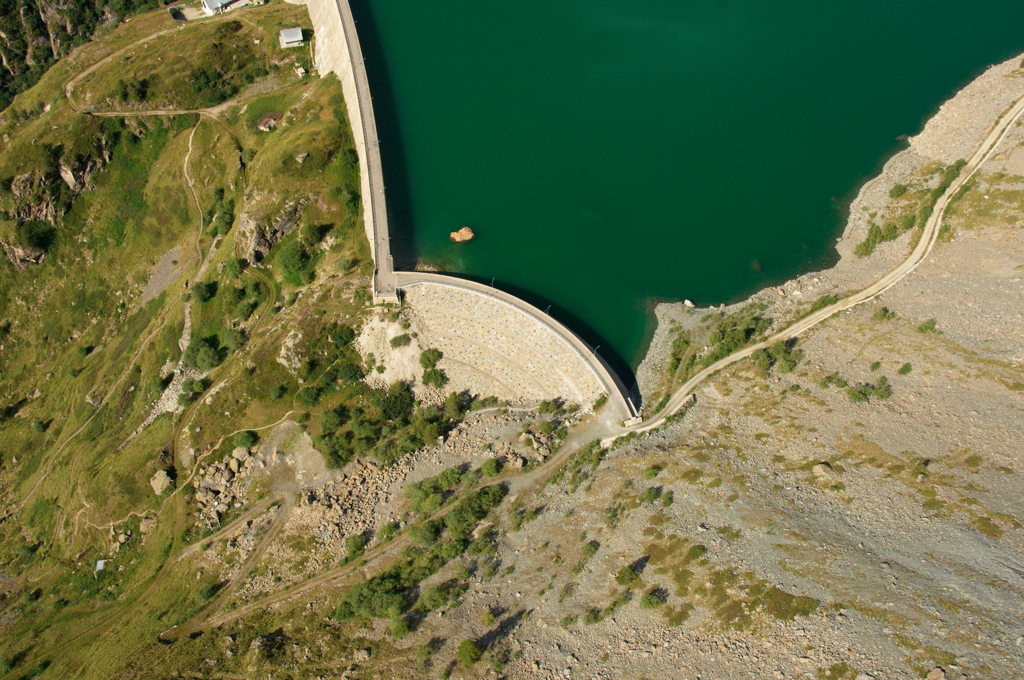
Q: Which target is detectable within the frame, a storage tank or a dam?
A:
dam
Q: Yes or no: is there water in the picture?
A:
Yes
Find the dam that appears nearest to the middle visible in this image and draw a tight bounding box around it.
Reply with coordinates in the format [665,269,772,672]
[398,270,631,422]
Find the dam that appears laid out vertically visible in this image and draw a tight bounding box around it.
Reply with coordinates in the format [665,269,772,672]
[282,0,421,307]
